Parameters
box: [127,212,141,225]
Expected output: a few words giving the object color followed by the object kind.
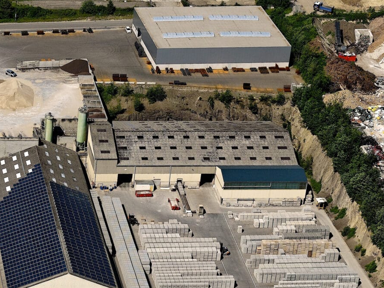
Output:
black vehicle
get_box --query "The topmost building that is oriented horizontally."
[139,4,292,69]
